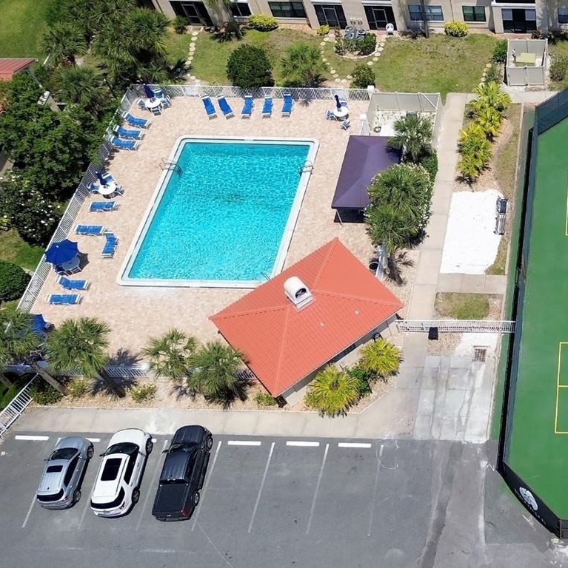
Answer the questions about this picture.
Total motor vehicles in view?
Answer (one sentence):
There are 3 motor vehicles in the image.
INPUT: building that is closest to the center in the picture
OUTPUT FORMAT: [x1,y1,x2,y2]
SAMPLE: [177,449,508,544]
[209,237,404,405]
